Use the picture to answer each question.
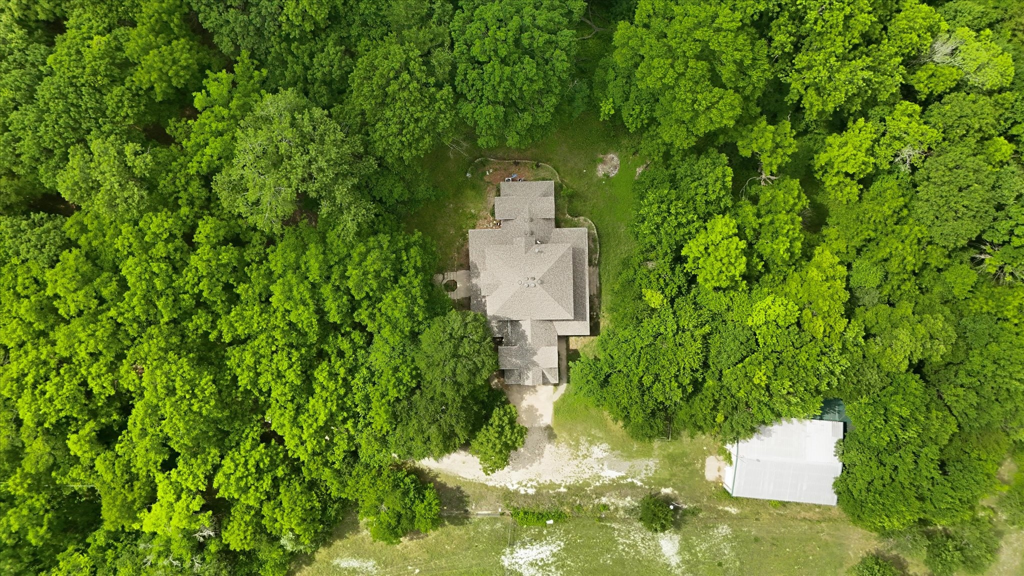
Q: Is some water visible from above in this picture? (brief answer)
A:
No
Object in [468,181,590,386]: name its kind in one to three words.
house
